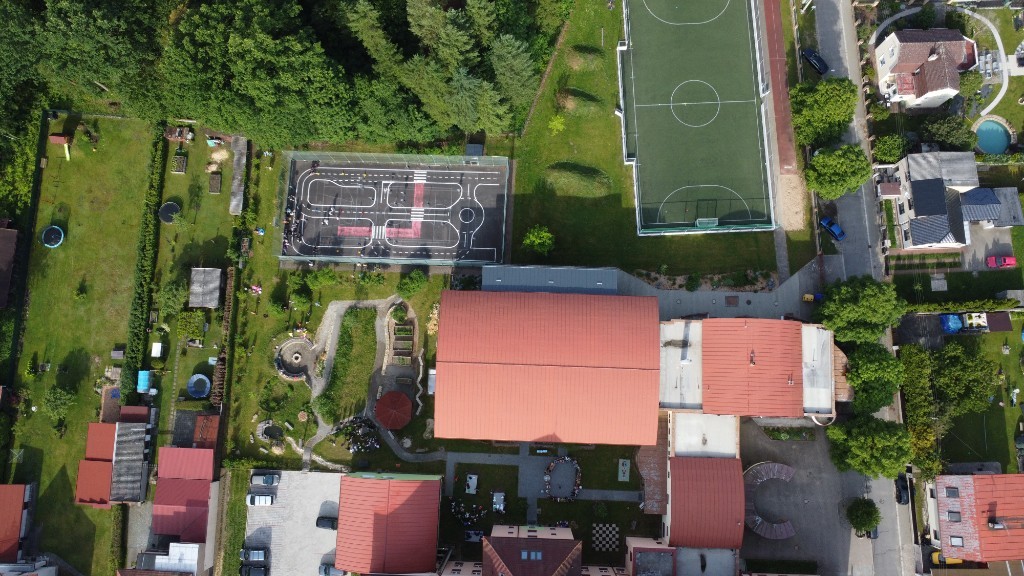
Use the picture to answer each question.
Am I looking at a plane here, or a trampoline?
trampoline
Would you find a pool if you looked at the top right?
Yes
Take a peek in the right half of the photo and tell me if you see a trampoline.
No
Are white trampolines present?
No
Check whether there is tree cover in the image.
Yes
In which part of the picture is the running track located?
top right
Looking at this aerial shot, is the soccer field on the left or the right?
right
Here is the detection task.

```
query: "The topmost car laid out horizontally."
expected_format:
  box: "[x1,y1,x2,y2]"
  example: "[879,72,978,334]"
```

[984,254,1017,269]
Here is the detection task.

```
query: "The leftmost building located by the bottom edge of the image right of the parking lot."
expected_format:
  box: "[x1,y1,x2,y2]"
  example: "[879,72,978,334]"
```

[336,473,442,570]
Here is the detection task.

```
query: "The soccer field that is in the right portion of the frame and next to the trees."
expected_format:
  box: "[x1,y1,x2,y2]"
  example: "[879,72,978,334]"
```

[618,0,775,235]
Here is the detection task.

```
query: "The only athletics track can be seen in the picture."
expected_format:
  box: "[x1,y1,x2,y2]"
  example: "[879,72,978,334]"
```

[764,0,797,175]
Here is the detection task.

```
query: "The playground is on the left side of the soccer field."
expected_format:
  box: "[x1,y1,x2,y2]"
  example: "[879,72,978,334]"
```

[282,160,508,266]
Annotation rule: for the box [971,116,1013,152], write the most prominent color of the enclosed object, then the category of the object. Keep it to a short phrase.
blue swimming pool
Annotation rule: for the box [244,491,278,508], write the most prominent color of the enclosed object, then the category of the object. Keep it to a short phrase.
white car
